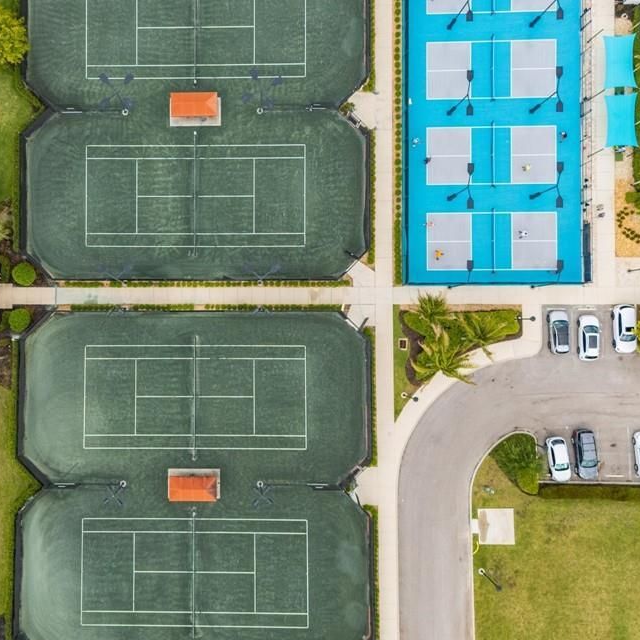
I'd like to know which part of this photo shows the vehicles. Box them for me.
[571,430,598,477]
[610,306,636,352]
[545,310,571,353]
[575,316,600,359]
[631,431,640,477]
[544,436,570,480]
